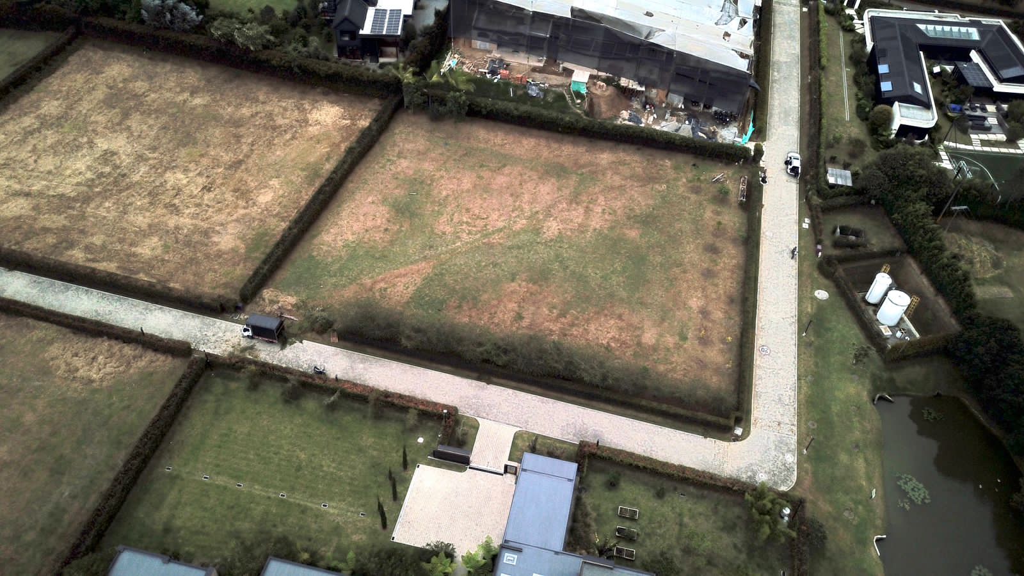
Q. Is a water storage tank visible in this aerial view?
Yes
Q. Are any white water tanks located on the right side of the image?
Yes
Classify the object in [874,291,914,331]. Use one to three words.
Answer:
water tank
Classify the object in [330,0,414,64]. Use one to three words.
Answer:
house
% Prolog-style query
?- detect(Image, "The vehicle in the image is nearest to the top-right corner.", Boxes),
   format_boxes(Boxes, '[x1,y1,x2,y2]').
[781,156,803,178]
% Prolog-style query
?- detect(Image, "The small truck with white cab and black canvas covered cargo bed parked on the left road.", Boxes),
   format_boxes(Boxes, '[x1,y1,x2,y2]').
[238,312,288,344]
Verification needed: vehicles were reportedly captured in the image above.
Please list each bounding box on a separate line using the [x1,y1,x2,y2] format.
[238,312,288,344]
[313,366,325,375]
[792,247,798,258]
[781,156,803,178]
